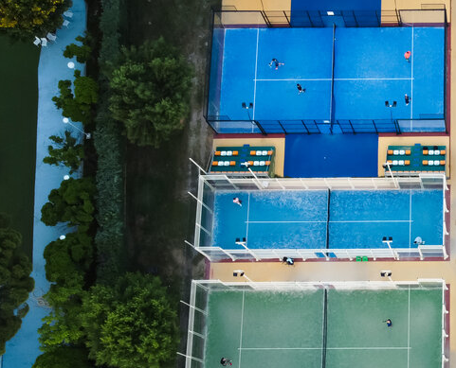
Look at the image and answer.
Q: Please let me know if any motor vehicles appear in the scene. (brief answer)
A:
No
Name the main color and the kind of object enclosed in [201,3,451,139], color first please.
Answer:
blue sports court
